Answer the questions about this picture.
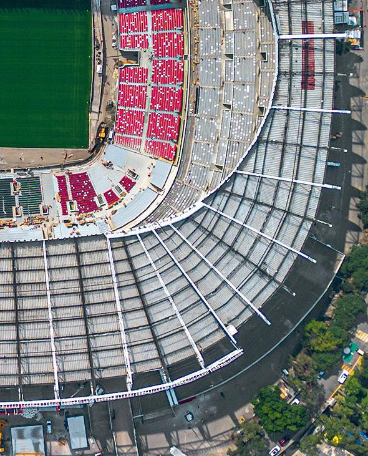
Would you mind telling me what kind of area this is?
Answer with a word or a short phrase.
sports ground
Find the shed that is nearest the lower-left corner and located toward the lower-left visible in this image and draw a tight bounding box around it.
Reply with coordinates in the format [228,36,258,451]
[10,421,44,456]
